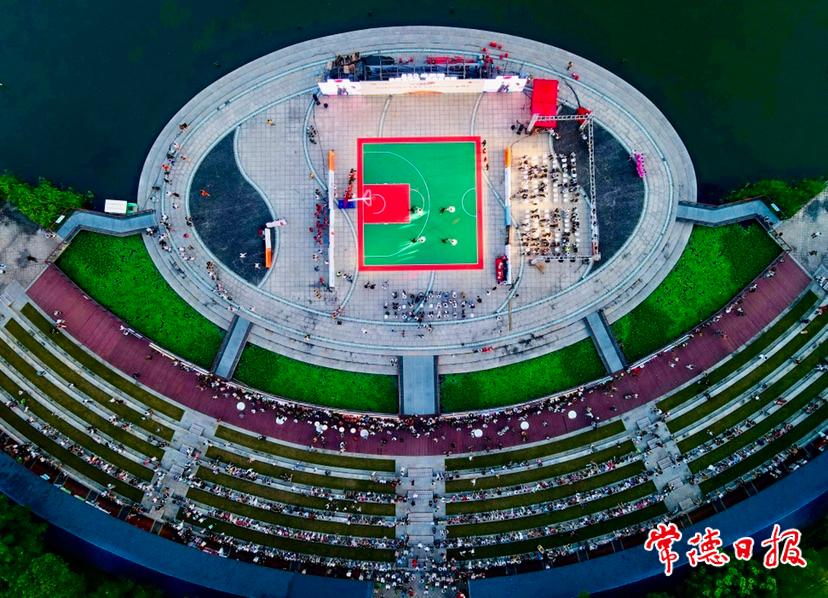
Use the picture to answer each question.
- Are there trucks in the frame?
No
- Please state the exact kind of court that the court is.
basketball court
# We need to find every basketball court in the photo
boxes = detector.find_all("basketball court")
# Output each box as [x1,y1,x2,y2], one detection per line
[357,137,483,271]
